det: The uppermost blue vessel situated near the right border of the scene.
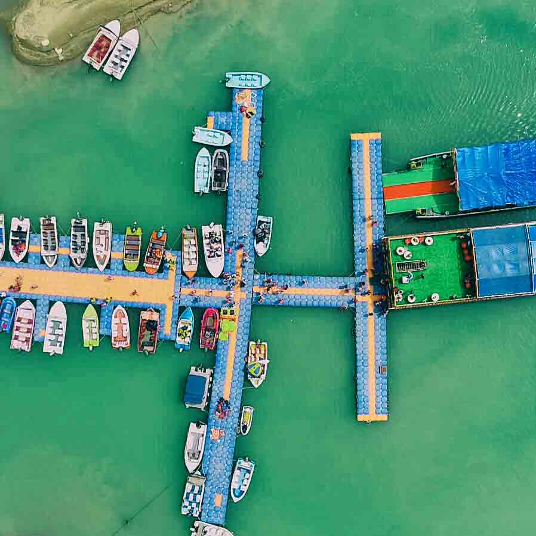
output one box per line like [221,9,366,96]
[382,135,536,217]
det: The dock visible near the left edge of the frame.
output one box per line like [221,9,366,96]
[0,233,181,342]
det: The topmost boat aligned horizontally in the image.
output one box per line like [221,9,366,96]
[222,72,271,88]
